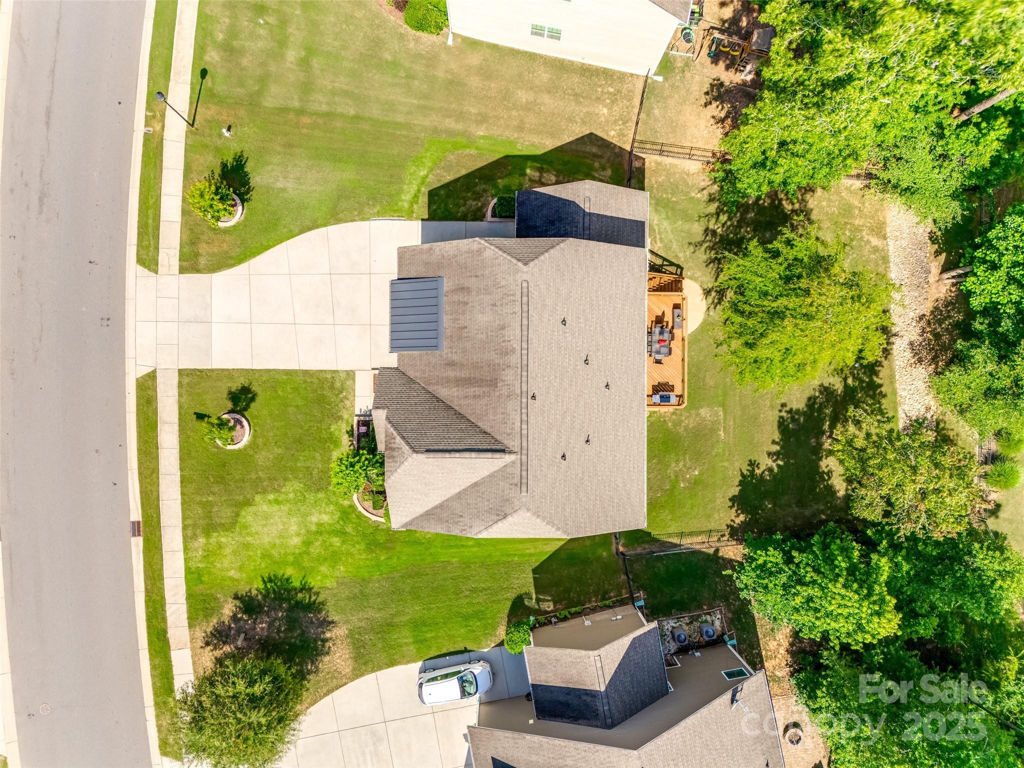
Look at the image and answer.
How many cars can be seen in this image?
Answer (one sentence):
I count just 1 car.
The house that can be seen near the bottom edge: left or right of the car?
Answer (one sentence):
The house that can be seen near the bottom edge is to the right of the car.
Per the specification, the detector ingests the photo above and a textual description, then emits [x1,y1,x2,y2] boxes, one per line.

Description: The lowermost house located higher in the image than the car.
[372,179,651,541]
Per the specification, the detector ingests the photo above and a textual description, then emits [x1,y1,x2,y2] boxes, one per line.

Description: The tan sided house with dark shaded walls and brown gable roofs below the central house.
[466,607,788,768]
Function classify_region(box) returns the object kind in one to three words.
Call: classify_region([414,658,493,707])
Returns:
car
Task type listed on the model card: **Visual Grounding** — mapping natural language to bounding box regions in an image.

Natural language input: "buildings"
[442,0,695,77]
[466,607,788,768]
[372,179,651,541]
